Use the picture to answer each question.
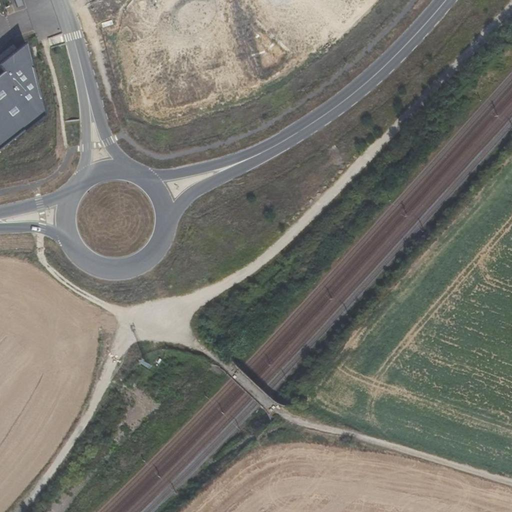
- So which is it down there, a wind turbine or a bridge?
bridge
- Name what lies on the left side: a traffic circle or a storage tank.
traffic circle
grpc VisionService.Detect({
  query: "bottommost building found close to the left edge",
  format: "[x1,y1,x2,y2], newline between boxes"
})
[0,43,48,149]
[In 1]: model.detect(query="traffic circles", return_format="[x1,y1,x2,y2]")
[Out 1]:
[56,158,176,280]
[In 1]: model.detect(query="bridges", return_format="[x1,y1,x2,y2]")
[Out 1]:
[216,354,287,419]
